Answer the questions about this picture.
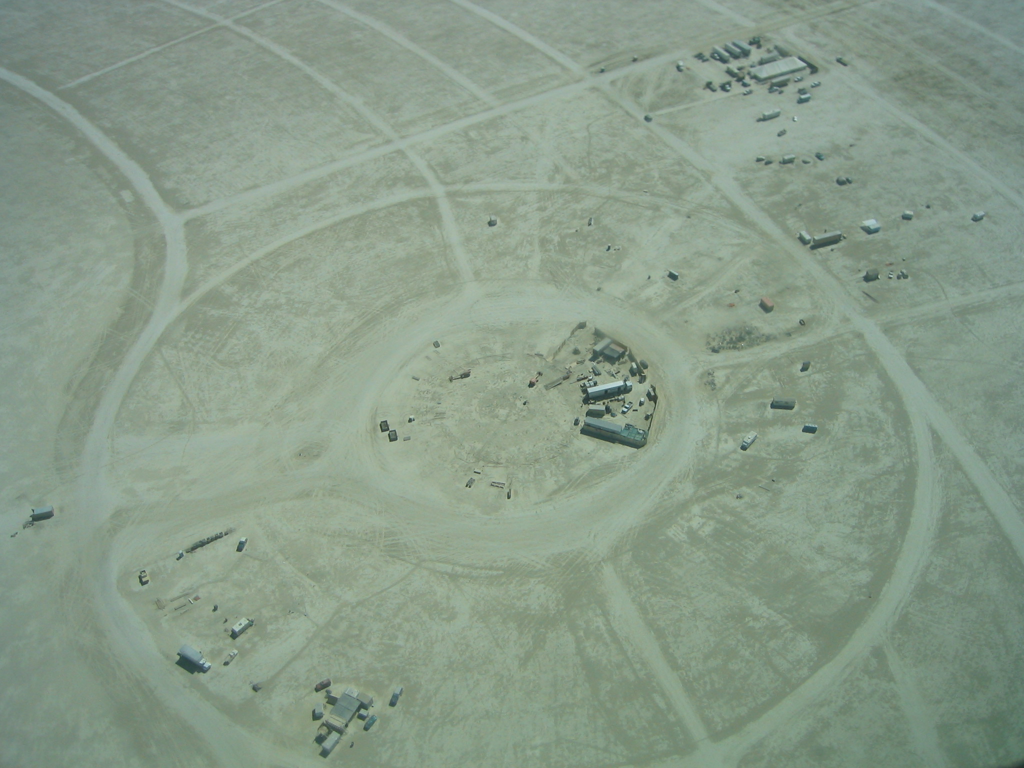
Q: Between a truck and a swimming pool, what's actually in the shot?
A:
truck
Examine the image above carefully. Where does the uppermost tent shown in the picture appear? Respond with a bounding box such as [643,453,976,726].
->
[748,57,808,86]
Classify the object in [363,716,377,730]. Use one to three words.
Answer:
car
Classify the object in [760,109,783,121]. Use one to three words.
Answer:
vehicle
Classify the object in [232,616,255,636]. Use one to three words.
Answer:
vehicle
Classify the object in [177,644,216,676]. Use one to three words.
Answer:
truck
